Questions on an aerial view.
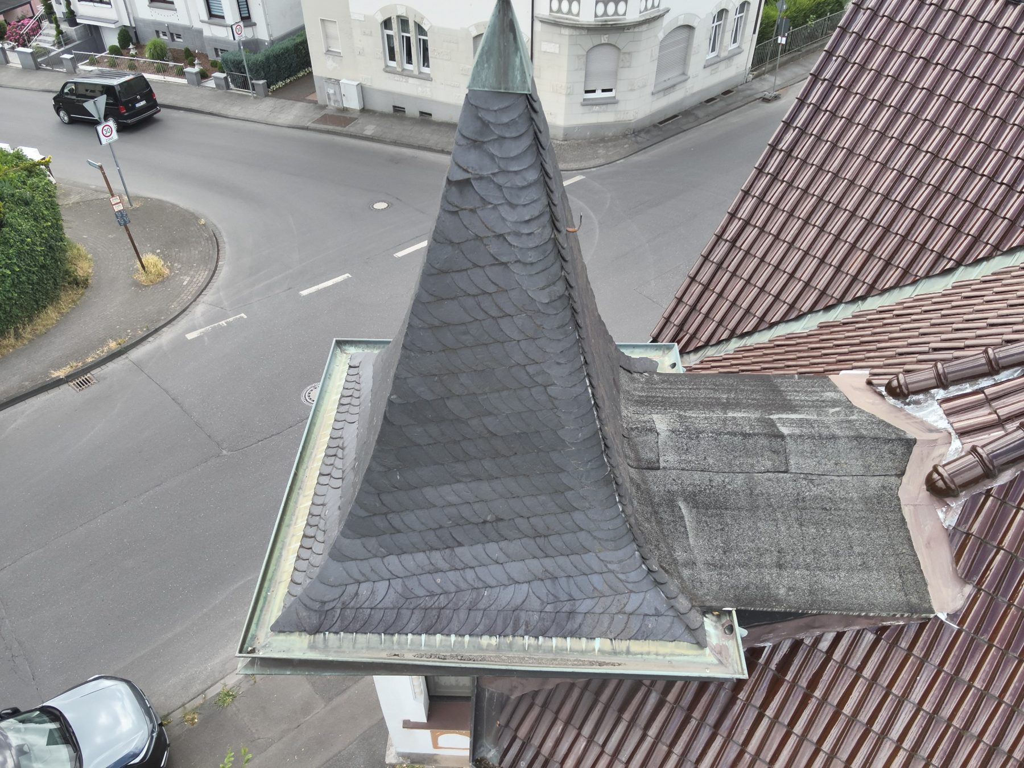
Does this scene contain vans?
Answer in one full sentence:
Yes, a van appears in the view.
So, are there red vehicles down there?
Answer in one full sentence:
No, the scene contains no red vehicle.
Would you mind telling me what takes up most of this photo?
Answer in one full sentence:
The scene is dominated by buildings.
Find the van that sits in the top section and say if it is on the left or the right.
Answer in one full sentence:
You can find the van that sits in the top section on the left side of the picture.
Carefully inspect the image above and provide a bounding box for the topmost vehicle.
[56,66,160,132]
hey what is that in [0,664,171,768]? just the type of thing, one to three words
car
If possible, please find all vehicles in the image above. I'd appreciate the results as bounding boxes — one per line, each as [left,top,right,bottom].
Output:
[0,664,171,768]
[56,66,160,132]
